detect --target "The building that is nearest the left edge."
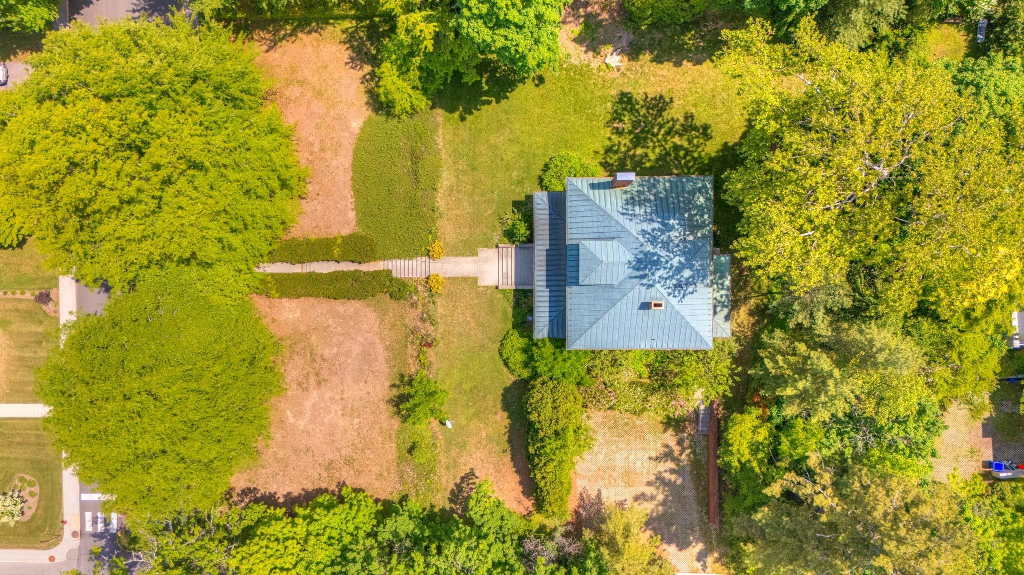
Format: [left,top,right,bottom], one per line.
[499,172,732,352]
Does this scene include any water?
No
